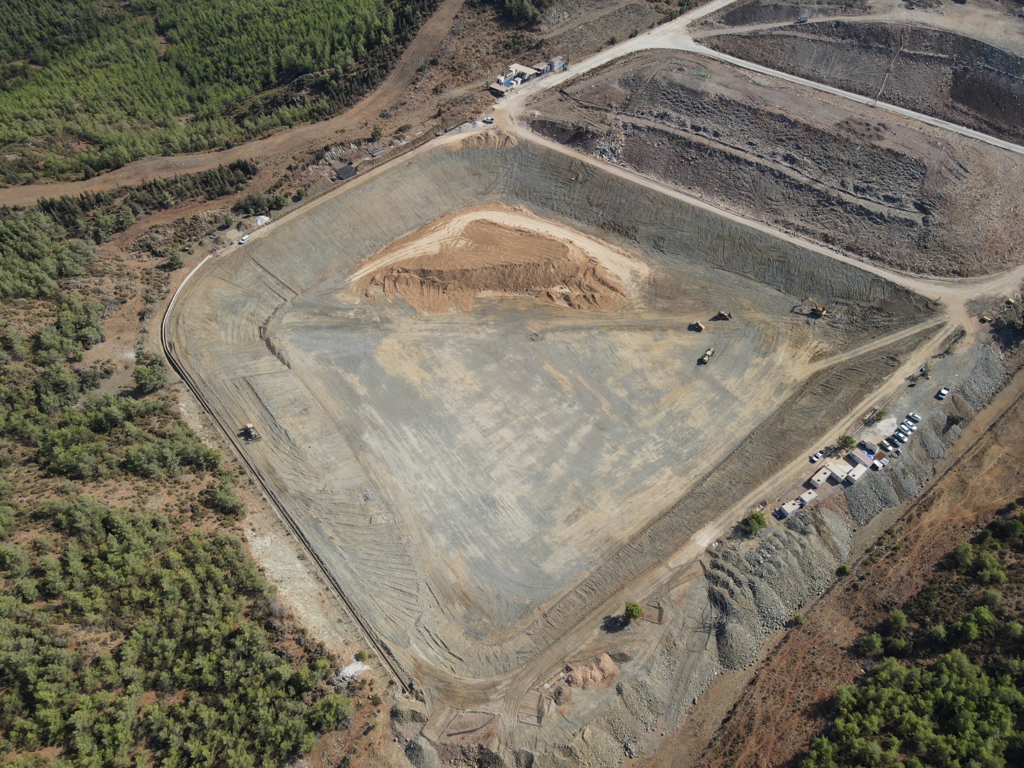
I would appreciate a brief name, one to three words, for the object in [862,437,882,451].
vehicle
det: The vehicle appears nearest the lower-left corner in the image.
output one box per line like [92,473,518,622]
[244,424,258,439]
